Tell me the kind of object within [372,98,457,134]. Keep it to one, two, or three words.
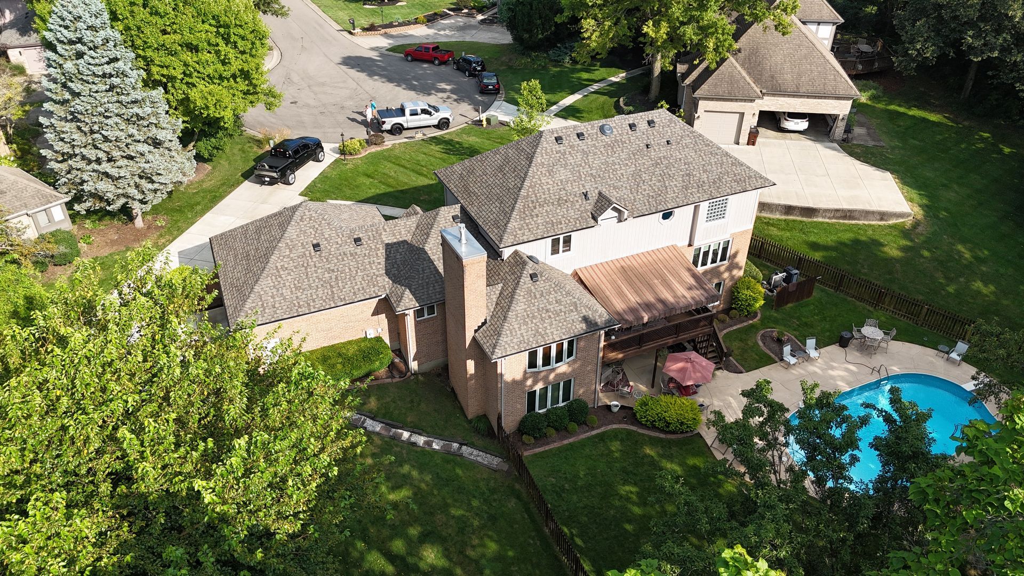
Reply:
truck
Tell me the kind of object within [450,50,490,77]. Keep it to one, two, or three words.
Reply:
car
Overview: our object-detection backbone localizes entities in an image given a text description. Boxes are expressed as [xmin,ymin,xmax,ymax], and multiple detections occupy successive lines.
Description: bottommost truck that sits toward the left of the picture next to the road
[248,133,330,189]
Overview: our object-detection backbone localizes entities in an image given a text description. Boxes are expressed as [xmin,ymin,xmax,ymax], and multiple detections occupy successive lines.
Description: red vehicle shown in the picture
[401,41,456,65]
